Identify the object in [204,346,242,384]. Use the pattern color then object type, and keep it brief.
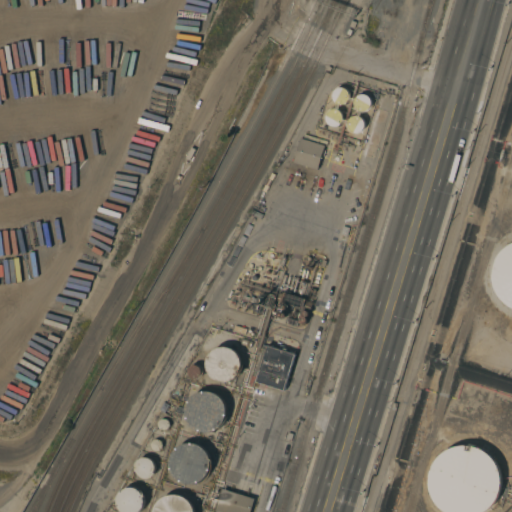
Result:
white storage tank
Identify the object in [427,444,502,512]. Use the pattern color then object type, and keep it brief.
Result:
white storage tank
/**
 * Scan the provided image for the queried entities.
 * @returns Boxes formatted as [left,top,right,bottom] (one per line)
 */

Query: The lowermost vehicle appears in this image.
[266,475,280,512]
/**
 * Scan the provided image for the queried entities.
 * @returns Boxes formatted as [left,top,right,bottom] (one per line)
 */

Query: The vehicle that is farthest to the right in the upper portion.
[448,137,466,184]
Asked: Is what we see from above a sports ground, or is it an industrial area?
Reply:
industrial area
